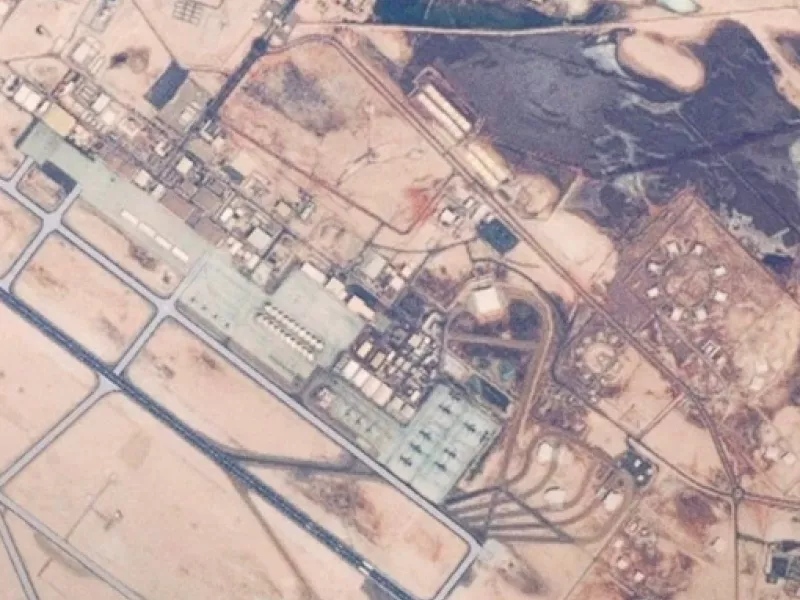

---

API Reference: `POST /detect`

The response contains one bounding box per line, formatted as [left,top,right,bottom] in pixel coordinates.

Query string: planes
[401,456,411,466]
[464,422,474,432]
[410,443,420,453]
[434,462,445,472]
[439,405,449,415]
[420,430,430,441]
[446,448,456,459]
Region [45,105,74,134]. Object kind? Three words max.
building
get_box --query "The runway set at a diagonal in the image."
[0,287,415,600]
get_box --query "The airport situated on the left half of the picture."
[0,120,499,600]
